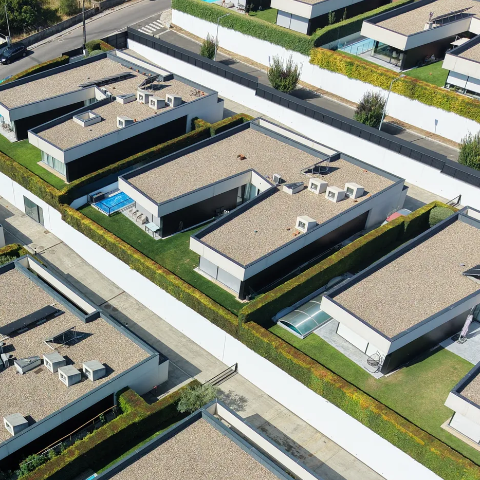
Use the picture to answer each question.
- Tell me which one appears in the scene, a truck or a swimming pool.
swimming pool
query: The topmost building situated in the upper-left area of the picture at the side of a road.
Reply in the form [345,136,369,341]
[0,50,222,182]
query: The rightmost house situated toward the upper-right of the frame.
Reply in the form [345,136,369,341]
[364,0,480,98]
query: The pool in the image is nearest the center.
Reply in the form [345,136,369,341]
[91,186,135,215]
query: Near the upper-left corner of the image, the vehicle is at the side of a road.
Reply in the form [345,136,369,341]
[2,44,24,61]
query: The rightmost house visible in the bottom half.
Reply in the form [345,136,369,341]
[325,208,480,448]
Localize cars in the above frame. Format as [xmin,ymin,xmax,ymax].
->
[381,207,408,222]
[2,44,24,61]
